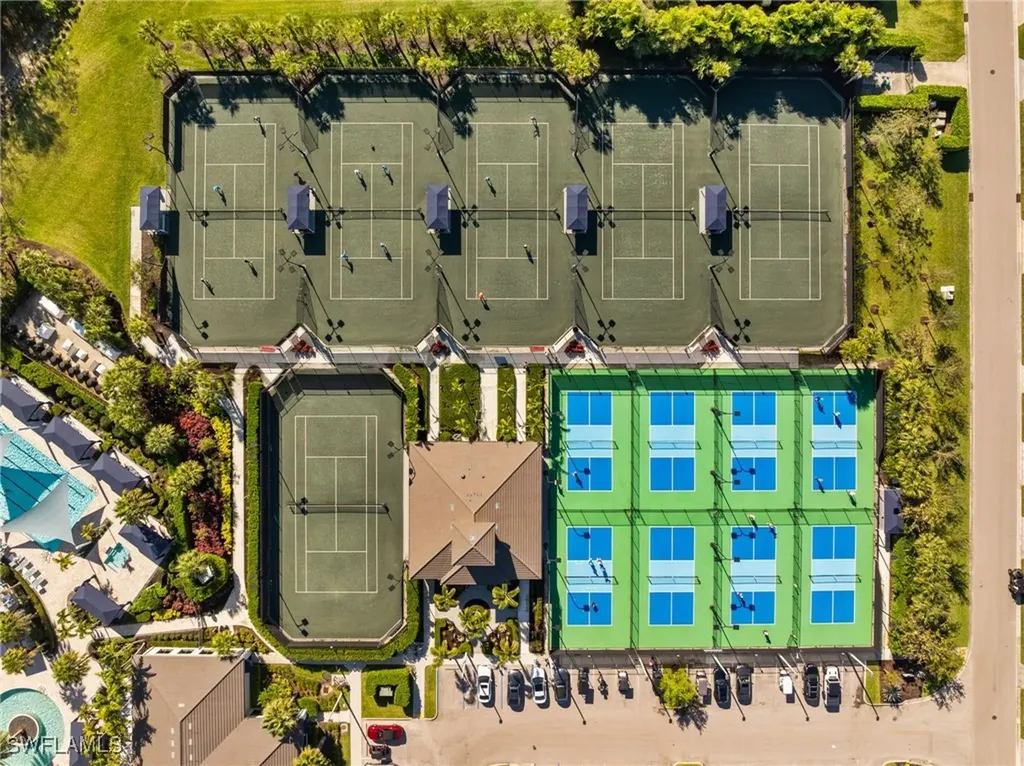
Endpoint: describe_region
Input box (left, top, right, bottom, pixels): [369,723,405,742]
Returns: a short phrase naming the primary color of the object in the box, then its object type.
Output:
red car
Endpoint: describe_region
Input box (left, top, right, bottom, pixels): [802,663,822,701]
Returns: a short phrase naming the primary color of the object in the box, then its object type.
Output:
black car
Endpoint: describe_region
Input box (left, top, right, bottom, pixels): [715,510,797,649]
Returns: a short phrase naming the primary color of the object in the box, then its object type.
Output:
green sports court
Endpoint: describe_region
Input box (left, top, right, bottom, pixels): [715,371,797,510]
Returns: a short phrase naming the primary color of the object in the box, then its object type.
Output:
green sports court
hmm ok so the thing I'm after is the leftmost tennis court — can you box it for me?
[172,77,304,346]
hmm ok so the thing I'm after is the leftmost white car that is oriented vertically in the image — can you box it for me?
[476,665,493,703]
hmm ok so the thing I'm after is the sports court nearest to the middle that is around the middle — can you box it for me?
[552,371,633,510]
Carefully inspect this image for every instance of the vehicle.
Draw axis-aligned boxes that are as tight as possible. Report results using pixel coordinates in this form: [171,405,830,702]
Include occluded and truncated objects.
[371,743,391,760]
[735,663,754,703]
[531,665,548,703]
[778,669,792,692]
[476,665,493,703]
[821,665,842,710]
[713,665,728,703]
[369,723,405,742]
[617,670,628,693]
[695,669,708,692]
[650,665,663,688]
[507,670,525,708]
[554,666,571,704]
[578,668,589,691]
[802,663,822,701]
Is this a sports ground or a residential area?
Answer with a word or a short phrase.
sports ground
